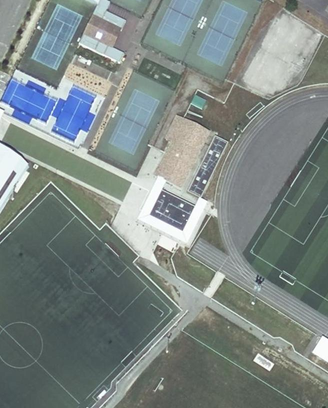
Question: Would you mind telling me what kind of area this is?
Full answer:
This looks like a sports ground.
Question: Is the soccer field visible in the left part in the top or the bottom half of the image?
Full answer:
Seen from above, the soccer field visible in the left part lies in the bottom half of the view.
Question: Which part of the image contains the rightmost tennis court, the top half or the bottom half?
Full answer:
The rightmost tennis court is in the top half of the image.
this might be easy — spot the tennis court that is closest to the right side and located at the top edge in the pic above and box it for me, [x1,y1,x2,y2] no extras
[182,0,262,81]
